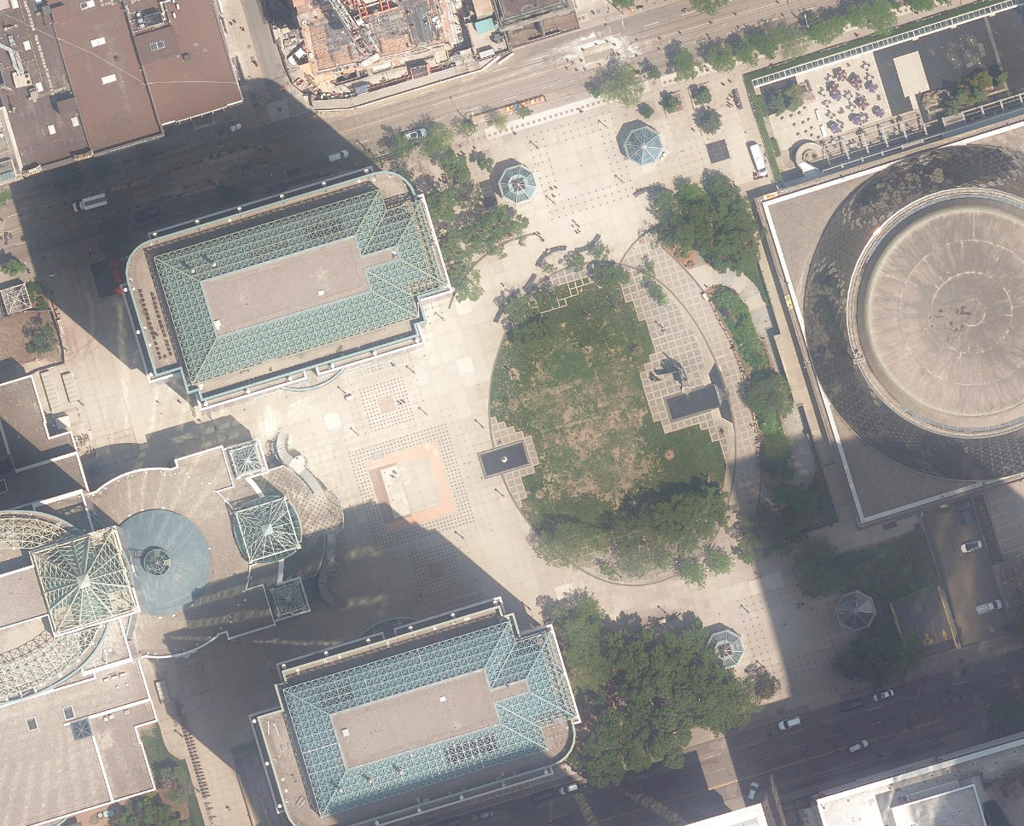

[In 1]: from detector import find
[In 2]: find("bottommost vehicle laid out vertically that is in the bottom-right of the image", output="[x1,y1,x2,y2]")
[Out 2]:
[747,780,759,802]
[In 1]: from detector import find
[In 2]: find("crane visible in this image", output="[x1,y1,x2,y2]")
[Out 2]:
[332,0,380,67]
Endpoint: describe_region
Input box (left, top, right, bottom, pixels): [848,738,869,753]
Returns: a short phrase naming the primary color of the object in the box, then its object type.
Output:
gray car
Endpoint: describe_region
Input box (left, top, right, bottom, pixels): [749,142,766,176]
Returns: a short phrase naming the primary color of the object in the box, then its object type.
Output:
white vehicle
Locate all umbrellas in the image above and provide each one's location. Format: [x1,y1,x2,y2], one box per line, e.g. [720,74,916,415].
[836,69,848,81]
[830,83,840,93]
[851,76,862,87]
[851,114,861,124]
[831,91,841,100]
[875,107,884,117]
[857,98,870,110]
[830,123,840,133]
[869,83,879,92]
